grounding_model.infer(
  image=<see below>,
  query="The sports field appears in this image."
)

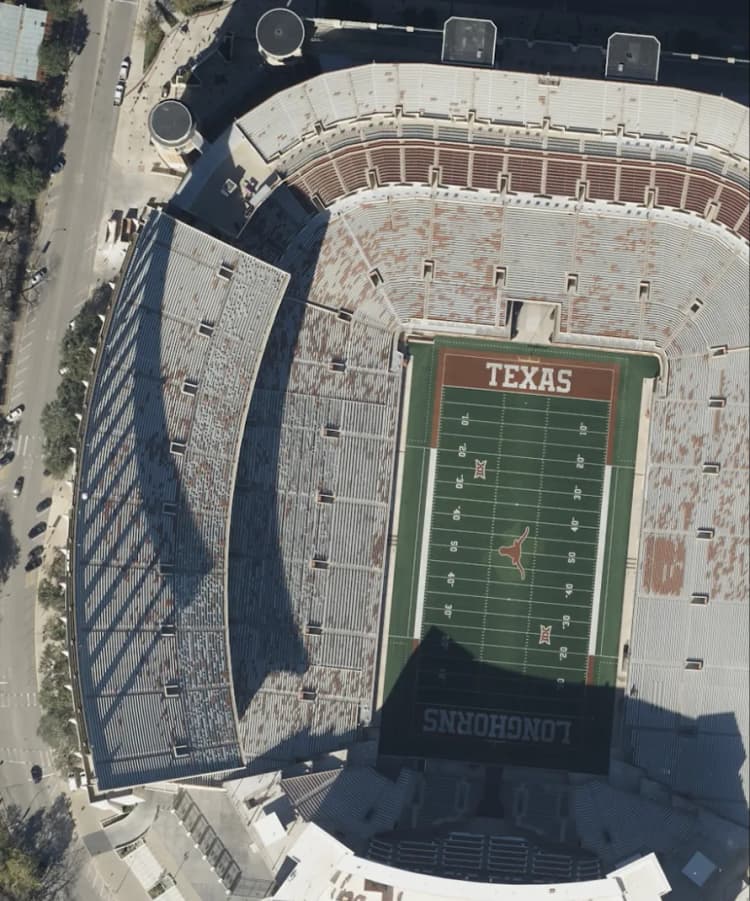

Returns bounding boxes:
[378,338,658,772]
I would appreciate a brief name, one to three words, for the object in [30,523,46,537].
car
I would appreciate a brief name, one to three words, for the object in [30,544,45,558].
car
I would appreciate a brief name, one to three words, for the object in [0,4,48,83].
building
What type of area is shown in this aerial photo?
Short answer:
sports ground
